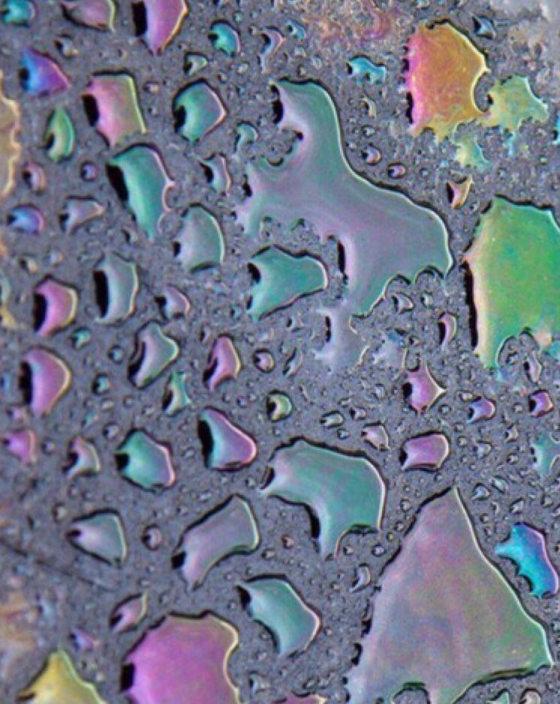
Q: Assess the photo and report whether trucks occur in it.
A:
No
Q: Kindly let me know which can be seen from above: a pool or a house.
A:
pool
